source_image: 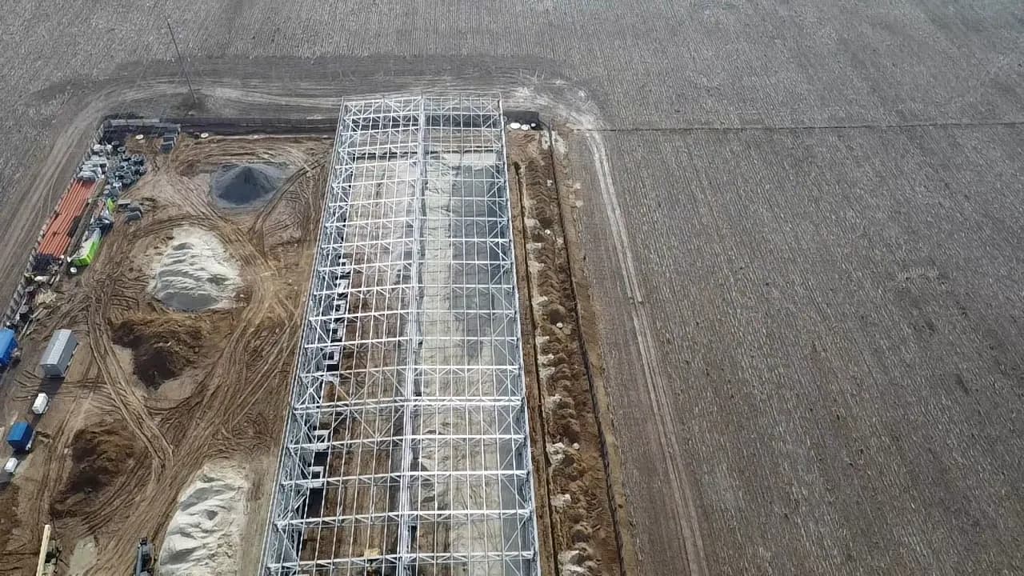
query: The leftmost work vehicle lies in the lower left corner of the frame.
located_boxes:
[29,518,66,576]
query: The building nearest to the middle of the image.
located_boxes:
[252,90,540,576]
